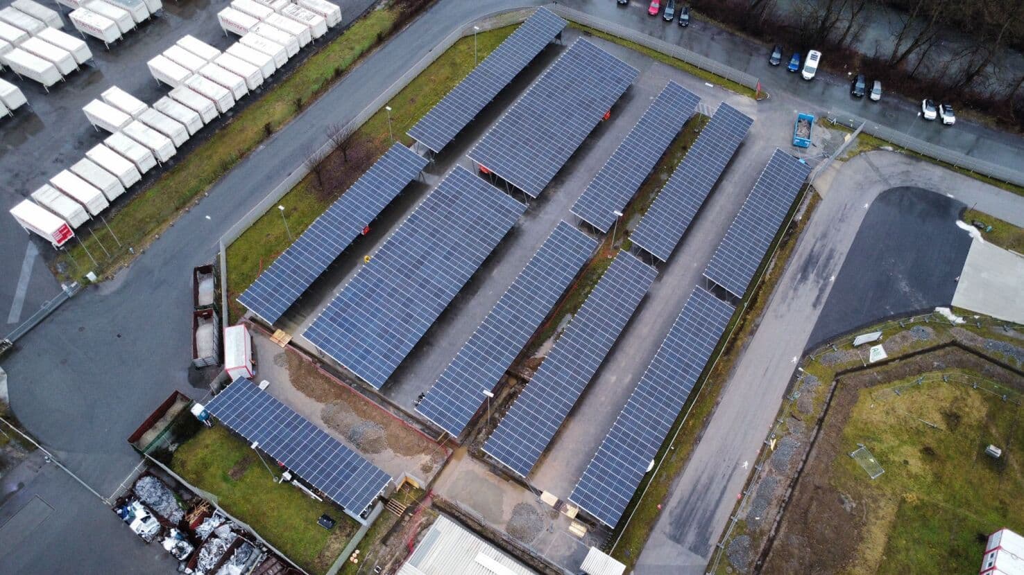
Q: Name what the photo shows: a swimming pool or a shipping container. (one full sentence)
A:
Looking from above, you can make out a shipping container.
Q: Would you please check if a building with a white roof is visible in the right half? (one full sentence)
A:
Yes, a building with a white roof appears in the right half.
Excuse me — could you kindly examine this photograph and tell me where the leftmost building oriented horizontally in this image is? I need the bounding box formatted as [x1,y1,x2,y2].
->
[399,515,533,575]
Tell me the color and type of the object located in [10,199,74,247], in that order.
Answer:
white shipping container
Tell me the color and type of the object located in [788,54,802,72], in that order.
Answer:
blue car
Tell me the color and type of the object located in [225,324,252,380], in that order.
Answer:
white shipping container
